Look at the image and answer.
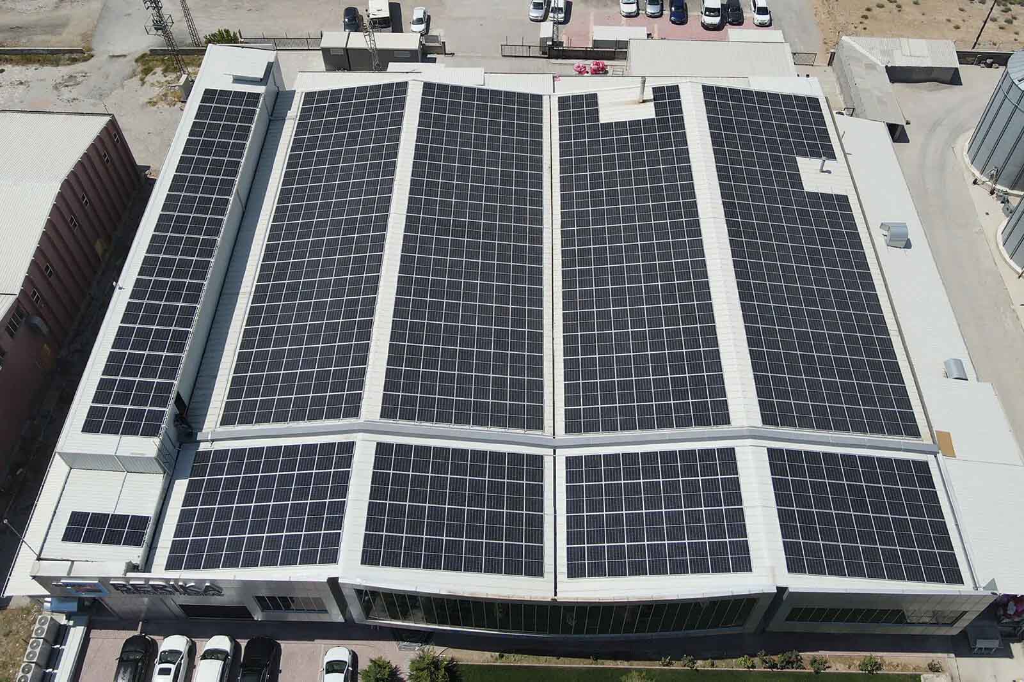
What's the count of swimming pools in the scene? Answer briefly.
0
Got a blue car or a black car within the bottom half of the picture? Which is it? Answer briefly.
black car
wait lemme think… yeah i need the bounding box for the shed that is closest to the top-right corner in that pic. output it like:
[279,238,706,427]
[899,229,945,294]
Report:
[833,34,959,141]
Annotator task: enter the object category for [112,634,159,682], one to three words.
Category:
car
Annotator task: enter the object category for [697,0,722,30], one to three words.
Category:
vehicle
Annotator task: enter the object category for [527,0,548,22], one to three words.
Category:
car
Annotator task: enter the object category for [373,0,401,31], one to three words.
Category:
vehicle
